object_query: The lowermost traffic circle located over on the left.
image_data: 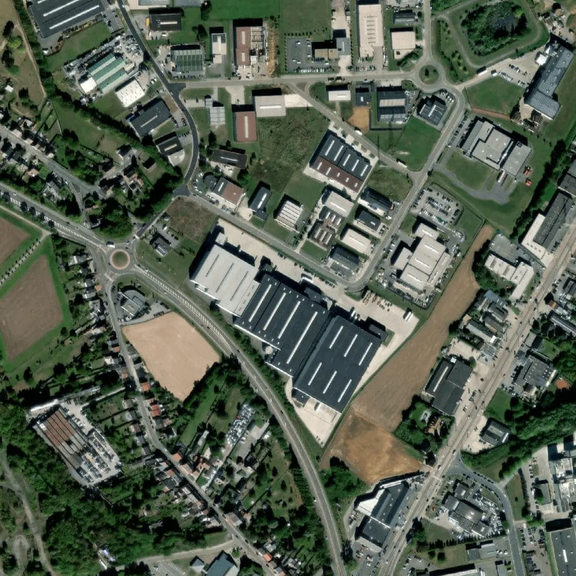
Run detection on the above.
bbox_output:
[103,242,136,276]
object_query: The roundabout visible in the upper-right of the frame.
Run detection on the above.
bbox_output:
[412,58,446,91]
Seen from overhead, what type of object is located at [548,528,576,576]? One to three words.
building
